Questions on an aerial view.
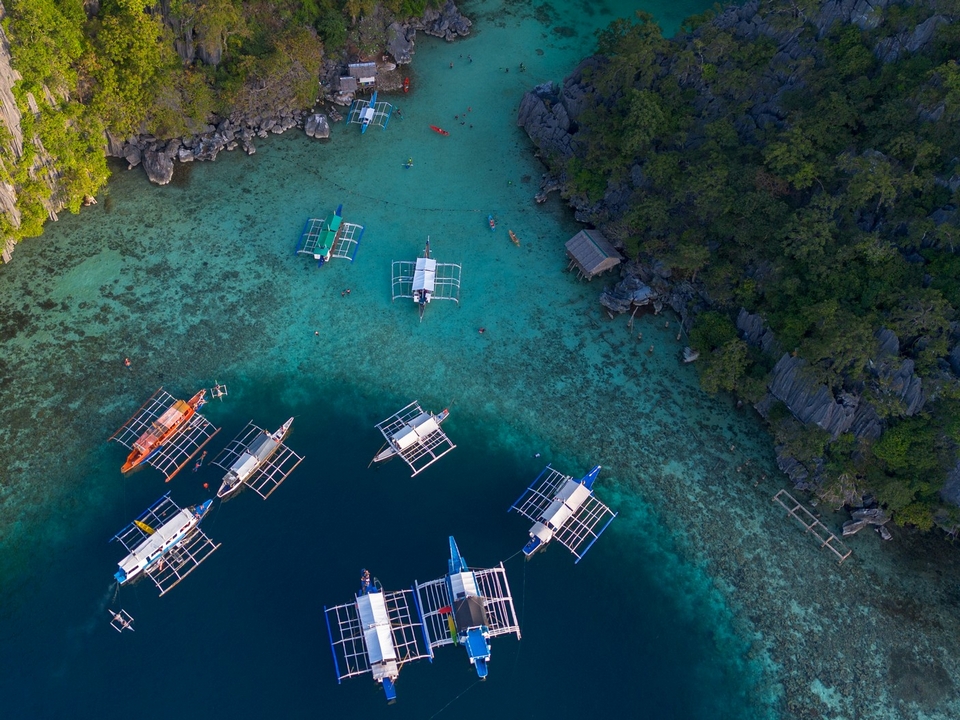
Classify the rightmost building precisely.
house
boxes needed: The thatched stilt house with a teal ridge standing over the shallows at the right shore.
[561,228,621,285]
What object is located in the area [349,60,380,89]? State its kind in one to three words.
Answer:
shed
